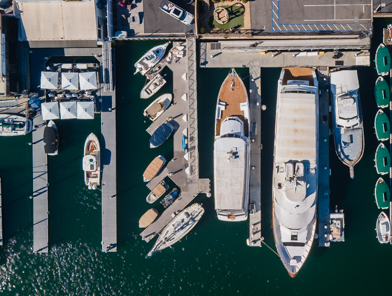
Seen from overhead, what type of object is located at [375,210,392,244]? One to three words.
boat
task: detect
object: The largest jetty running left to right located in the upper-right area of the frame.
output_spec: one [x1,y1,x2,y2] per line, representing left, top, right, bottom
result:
[199,40,372,68]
